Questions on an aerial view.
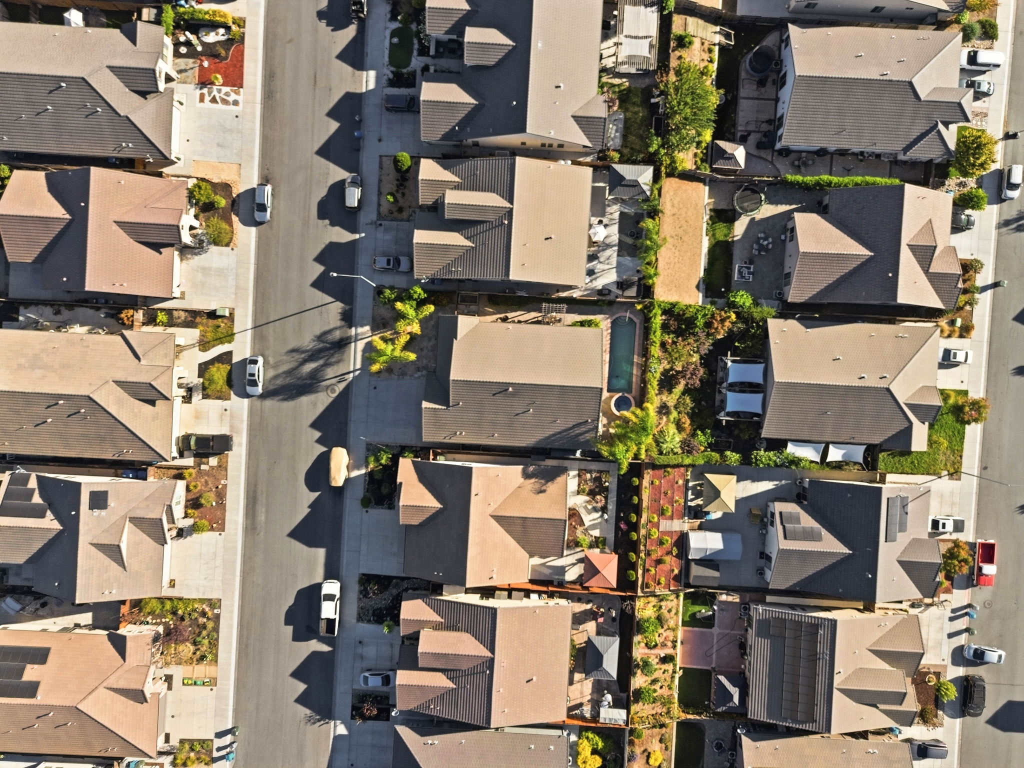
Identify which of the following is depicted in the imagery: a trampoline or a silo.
trampoline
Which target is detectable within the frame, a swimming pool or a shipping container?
swimming pool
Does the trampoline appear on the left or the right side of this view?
right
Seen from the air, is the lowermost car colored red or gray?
gray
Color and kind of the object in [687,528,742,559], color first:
white tent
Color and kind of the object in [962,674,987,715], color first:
black car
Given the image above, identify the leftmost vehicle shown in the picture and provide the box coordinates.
[177,434,234,455]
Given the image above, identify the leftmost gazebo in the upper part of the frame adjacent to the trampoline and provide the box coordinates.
[714,141,745,169]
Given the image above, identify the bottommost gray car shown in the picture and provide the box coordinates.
[910,738,951,760]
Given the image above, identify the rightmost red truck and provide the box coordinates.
[972,539,999,585]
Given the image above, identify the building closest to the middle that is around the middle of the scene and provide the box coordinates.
[422,315,602,450]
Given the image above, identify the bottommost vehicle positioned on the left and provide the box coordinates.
[359,668,398,690]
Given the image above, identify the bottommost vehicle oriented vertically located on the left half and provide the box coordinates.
[319,580,342,637]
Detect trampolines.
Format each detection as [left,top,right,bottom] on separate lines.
[732,178,772,216]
